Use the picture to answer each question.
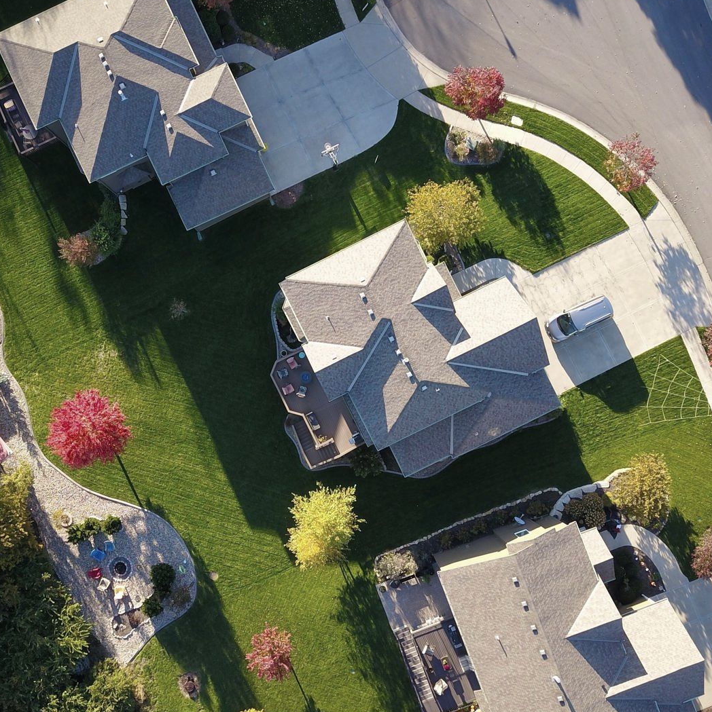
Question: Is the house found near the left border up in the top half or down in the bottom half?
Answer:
top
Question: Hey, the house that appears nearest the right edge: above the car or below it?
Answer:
below it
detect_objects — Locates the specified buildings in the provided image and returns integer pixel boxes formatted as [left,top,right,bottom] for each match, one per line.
[0,0,274,237]
[431,512,705,712]
[276,218,562,479]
